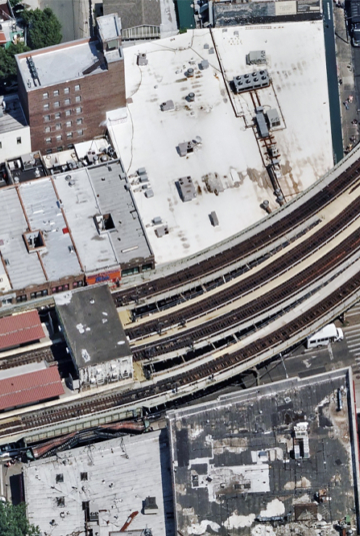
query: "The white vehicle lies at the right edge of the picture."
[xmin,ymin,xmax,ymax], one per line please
[306,327,347,353]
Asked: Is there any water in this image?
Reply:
No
